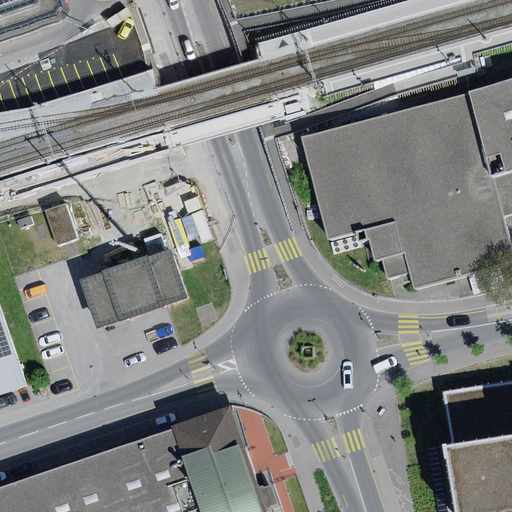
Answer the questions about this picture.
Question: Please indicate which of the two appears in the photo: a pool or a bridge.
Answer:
bridge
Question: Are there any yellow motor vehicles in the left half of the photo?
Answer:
Yes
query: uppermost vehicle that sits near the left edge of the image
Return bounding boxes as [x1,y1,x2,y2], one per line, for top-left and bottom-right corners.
[24,282,48,298]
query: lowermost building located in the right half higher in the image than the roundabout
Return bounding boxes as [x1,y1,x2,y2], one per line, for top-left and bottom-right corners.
[302,80,512,296]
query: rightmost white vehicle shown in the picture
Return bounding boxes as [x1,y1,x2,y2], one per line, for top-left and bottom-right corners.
[371,356,398,373]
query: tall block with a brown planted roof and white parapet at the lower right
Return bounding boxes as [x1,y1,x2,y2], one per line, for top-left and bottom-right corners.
[443,383,512,512]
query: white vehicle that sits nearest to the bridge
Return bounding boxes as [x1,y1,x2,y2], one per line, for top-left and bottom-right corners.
[182,36,196,60]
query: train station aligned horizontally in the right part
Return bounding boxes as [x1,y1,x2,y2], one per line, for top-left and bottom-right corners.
[258,0,512,108]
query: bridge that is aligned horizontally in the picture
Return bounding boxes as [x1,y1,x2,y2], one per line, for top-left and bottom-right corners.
[154,59,311,147]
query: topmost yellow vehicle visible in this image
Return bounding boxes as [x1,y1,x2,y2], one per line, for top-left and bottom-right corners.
[118,18,134,40]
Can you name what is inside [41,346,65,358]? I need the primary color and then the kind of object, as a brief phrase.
white vehicle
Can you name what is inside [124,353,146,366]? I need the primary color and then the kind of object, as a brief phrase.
white vehicle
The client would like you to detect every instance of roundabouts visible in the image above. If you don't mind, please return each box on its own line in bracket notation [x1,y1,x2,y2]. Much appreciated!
[272,316,342,385]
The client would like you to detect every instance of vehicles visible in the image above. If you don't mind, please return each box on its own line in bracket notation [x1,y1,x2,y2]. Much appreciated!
[342,360,354,388]
[18,388,31,402]
[154,413,176,426]
[28,308,50,321]
[24,282,48,298]
[50,380,74,392]
[145,326,174,341]
[371,356,398,373]
[0,393,18,408]
[182,36,196,60]
[118,18,134,40]
[38,332,63,346]
[124,353,146,366]
[446,315,470,326]
[41,346,65,358]
[168,0,178,10]
[152,338,178,352]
